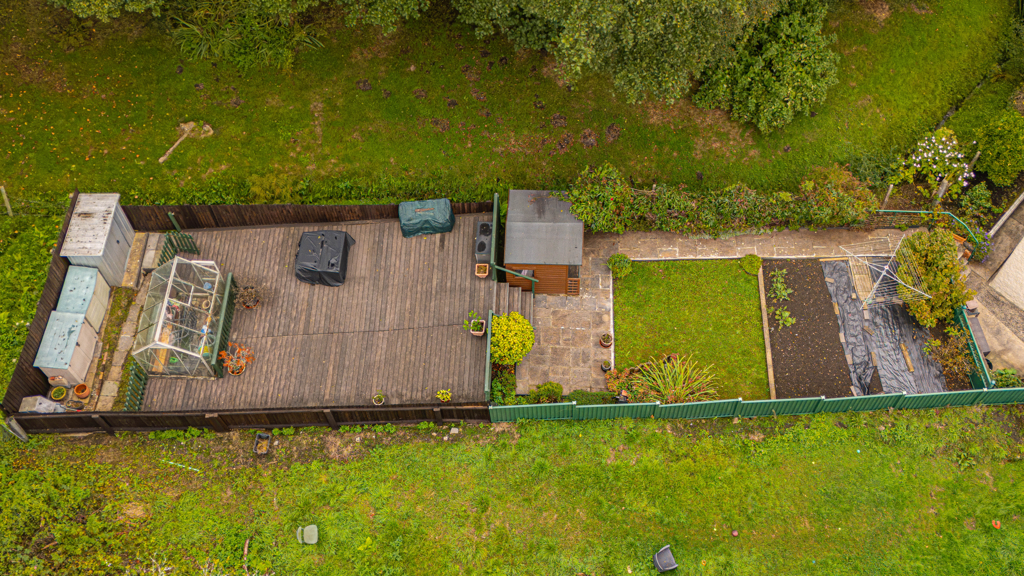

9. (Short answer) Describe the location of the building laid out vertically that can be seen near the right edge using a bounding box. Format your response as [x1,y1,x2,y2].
[988,234,1024,313]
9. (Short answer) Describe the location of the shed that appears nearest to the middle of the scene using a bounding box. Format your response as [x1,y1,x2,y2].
[503,196,585,295]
